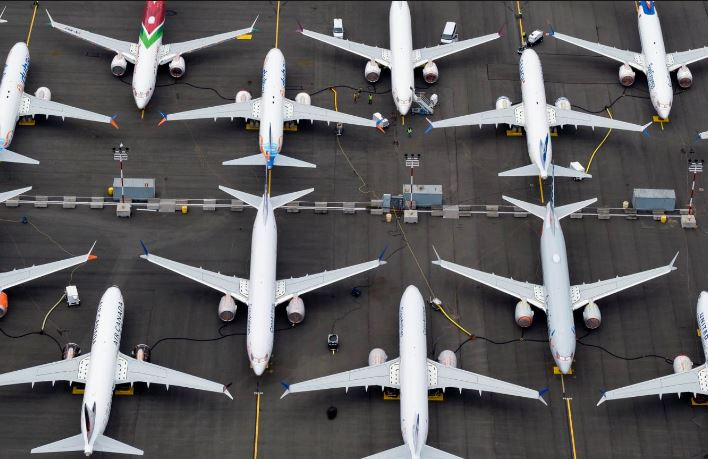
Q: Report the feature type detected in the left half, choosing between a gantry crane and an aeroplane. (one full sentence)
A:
The one visible in the left half is an aeroplane.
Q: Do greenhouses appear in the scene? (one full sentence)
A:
No, no greenhouse is visible in the scene.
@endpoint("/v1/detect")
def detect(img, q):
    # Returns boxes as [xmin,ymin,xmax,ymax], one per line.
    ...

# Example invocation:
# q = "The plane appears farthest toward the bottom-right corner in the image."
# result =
[597,289,708,410]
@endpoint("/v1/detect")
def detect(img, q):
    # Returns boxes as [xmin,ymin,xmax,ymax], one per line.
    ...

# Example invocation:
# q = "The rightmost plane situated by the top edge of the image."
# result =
[546,0,708,118]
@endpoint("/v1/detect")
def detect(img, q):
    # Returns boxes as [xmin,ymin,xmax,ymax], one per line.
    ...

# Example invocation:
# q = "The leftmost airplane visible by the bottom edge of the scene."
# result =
[0,285,234,457]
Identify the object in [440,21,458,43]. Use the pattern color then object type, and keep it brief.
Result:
white vehicle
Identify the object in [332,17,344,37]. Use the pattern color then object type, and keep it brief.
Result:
white vehicle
